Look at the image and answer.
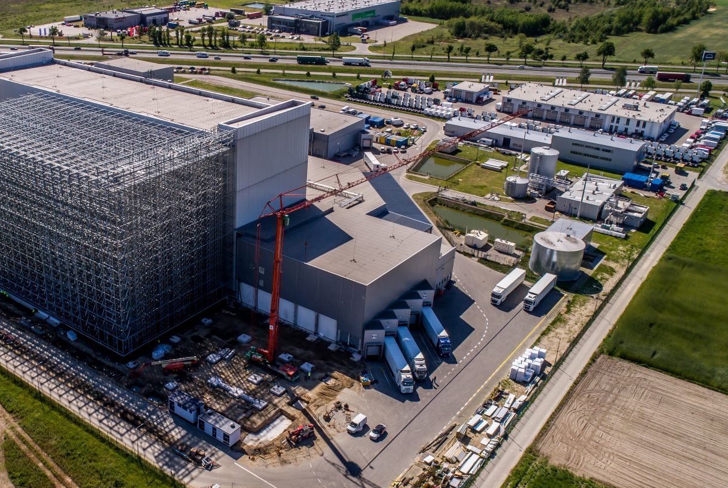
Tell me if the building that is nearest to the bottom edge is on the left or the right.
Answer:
left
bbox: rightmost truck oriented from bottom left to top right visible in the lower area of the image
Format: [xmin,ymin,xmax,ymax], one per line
[522,275,557,312]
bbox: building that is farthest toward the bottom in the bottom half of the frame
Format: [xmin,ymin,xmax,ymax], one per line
[198,408,242,447]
